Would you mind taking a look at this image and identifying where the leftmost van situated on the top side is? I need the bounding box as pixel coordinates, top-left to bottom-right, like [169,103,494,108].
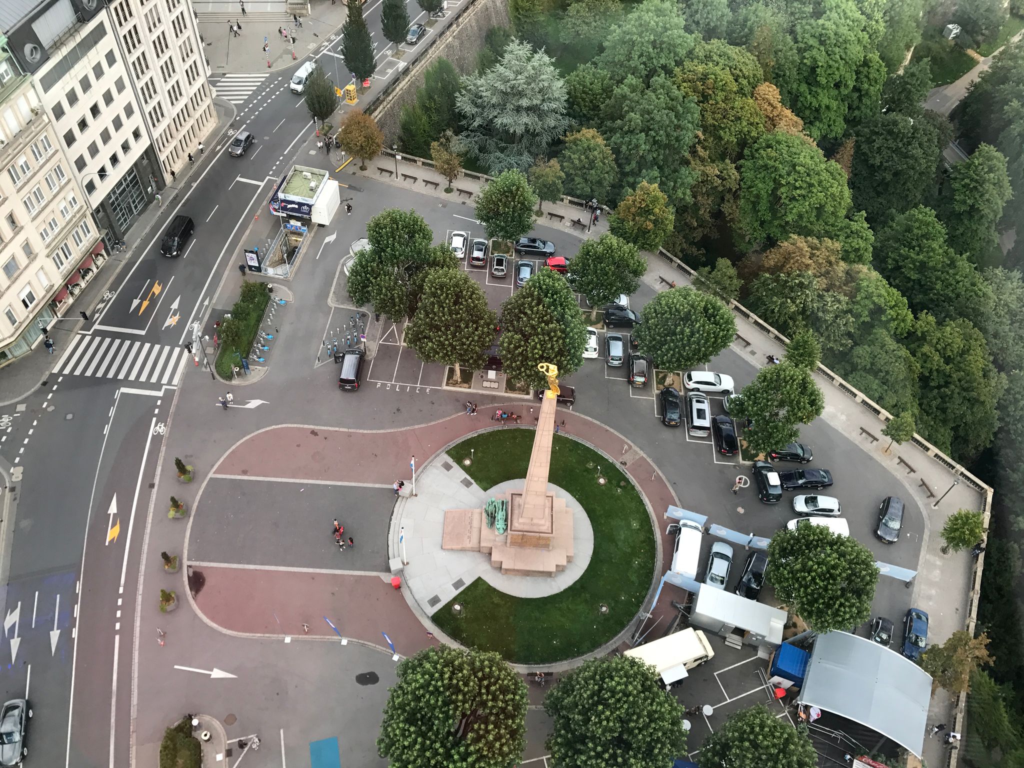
[163,214,197,258]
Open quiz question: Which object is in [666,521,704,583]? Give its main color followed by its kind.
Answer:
white van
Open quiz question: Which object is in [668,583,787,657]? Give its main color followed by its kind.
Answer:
white trailer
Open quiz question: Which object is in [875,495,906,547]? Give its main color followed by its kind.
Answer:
gray car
